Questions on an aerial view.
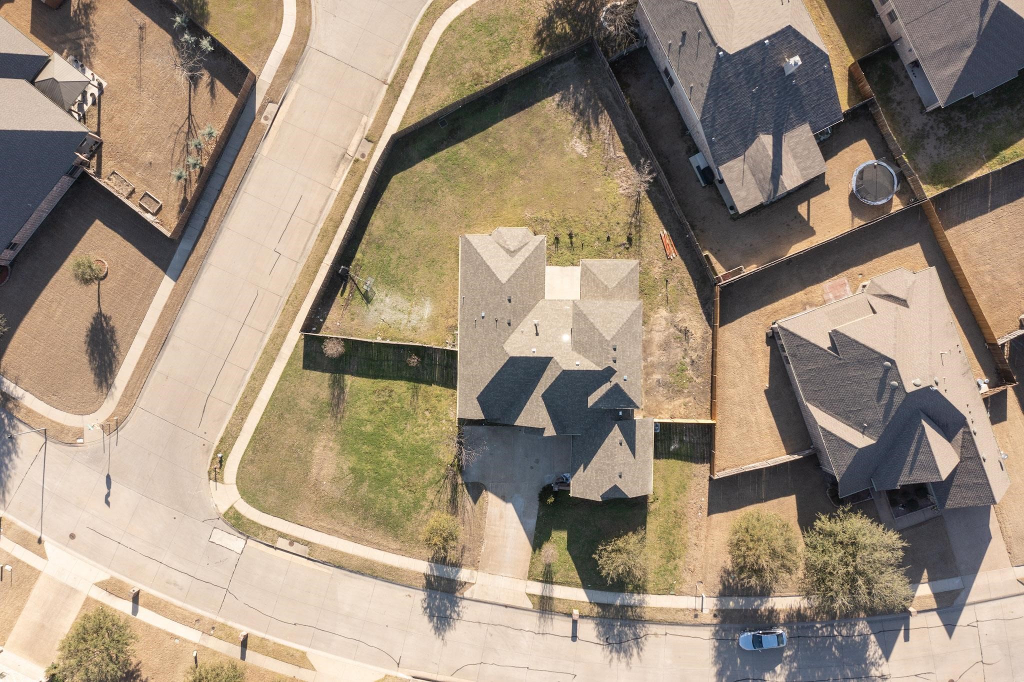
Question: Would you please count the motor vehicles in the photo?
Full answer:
Altogether the scene contains 1 motor vehicle.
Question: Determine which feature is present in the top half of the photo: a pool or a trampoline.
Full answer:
You can see a trampoline in the top half of the photo.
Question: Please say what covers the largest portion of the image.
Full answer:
The largest share of the image is taken up by grass.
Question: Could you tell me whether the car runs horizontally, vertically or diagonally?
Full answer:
What the image shows is the car lying horizontally.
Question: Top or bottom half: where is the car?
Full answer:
The car sits in the bottom half of the picture.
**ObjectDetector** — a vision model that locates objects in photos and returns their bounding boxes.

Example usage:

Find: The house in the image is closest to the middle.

[456,226,654,500]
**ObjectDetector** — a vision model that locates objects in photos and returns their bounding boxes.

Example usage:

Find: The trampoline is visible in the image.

[851,158,908,207]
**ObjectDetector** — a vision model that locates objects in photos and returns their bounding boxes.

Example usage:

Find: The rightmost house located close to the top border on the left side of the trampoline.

[626,0,844,213]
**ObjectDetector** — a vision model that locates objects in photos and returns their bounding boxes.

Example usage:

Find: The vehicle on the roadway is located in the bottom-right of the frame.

[739,628,789,655]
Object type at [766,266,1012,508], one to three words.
house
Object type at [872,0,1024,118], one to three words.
house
